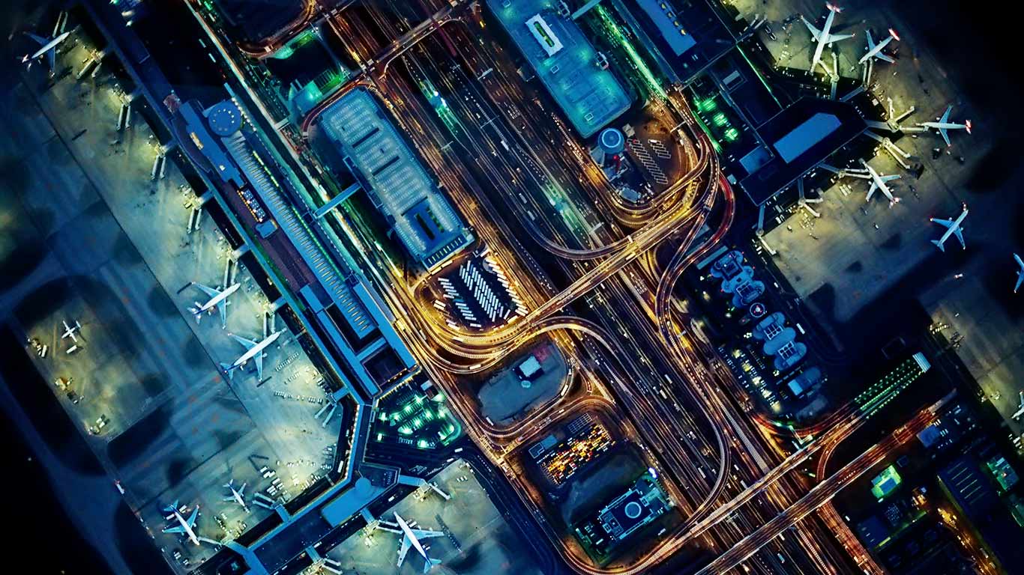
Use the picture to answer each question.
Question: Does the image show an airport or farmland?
airport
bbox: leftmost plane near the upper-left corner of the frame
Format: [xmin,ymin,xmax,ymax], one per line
[15,29,70,70]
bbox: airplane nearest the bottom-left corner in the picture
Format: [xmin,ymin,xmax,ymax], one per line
[158,500,198,545]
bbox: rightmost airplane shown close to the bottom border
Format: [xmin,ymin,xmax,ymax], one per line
[393,513,445,575]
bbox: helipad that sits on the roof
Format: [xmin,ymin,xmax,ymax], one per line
[627,504,640,517]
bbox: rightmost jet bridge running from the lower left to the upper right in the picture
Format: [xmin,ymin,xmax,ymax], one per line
[894,103,917,122]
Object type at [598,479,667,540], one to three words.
building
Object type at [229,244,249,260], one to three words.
jet bridge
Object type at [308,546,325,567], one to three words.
jet bridge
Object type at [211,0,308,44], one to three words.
building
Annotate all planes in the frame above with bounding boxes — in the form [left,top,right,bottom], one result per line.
[15,29,70,70]
[867,163,905,207]
[918,104,973,145]
[802,0,856,72]
[222,480,247,511]
[158,500,198,545]
[861,25,901,62]
[218,330,282,382]
[184,278,239,328]
[393,513,445,575]
[61,321,79,340]
[931,206,969,252]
